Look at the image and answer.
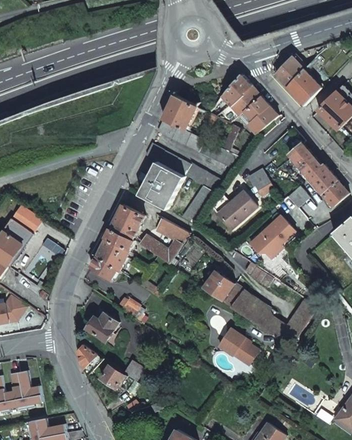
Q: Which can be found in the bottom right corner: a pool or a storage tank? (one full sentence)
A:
What appears in the bottom right corner is a pool.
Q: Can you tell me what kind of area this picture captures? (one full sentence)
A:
The area seen from above is a residential area.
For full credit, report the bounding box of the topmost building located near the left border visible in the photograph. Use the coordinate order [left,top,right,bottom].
[12,206,42,232]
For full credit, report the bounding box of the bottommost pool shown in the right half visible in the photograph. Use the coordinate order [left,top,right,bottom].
[288,384,316,405]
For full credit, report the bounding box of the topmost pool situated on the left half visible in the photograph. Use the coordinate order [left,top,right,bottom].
[30,257,47,277]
